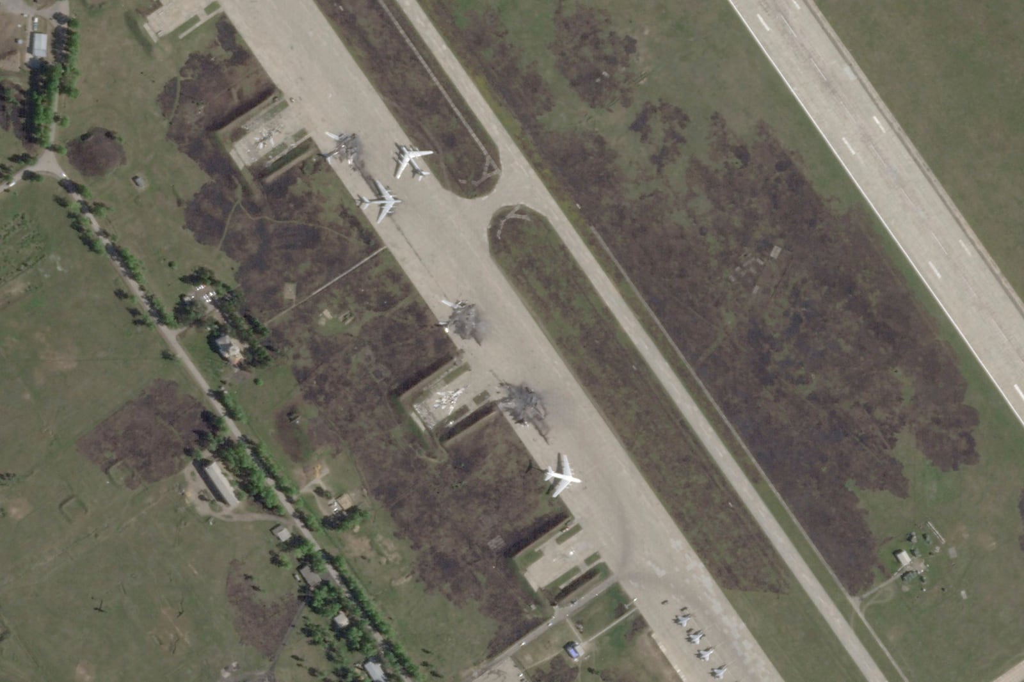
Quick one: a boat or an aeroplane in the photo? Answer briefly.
aeroplane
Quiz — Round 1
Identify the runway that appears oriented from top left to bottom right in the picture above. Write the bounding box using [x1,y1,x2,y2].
[729,0,1024,424]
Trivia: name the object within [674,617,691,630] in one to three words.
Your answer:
airplane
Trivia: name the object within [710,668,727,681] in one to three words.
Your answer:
airplane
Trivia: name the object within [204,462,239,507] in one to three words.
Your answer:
building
